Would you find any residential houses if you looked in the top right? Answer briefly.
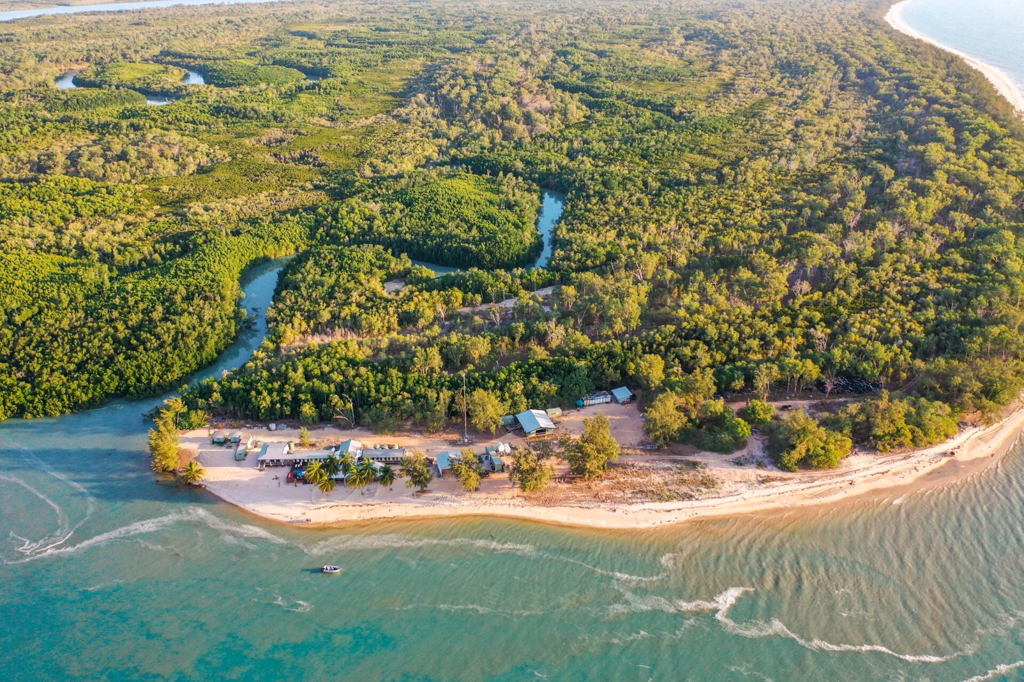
No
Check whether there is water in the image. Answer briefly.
Yes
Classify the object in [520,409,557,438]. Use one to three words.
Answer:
house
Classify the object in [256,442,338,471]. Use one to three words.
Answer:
building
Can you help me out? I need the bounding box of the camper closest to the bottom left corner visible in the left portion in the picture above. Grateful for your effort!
[235,445,248,460]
